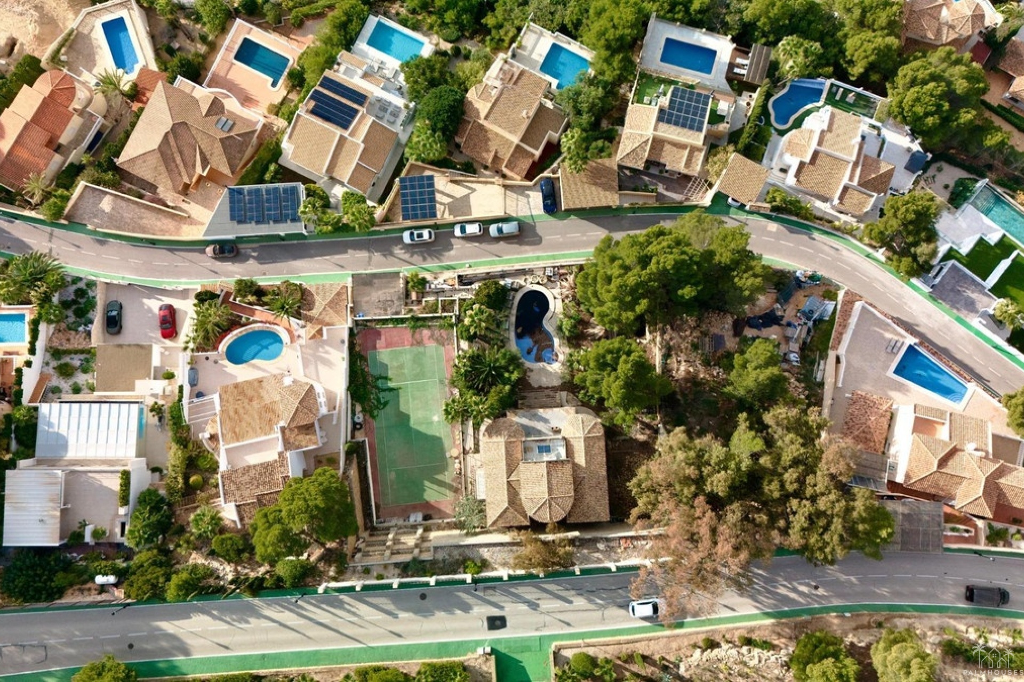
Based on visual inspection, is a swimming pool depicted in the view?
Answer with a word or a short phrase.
Yes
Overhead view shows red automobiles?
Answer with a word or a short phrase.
Yes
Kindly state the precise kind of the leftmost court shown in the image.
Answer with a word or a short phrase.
tennis court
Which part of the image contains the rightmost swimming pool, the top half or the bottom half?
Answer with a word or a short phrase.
top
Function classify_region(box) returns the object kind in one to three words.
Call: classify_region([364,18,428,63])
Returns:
swimming pool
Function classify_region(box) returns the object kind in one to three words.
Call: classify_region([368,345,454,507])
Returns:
tennis court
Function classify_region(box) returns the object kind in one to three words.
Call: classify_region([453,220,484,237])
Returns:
car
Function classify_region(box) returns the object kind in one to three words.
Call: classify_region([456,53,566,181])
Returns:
house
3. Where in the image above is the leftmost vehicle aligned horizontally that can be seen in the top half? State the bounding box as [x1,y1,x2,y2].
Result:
[205,241,239,258]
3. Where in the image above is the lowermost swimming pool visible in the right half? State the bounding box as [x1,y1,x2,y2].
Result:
[887,340,973,410]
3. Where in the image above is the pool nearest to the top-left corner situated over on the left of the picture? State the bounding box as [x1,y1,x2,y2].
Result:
[97,12,143,79]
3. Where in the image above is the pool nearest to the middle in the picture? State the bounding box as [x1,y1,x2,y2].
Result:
[509,285,561,370]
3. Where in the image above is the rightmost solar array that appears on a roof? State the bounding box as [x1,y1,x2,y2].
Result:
[658,88,710,131]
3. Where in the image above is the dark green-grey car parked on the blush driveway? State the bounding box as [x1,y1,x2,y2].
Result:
[105,300,124,335]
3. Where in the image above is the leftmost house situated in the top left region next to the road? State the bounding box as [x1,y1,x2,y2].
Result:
[0,69,116,209]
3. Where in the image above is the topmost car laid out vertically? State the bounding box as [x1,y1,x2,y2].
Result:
[540,178,557,214]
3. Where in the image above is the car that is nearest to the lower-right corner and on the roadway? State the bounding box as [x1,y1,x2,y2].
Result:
[965,586,1005,605]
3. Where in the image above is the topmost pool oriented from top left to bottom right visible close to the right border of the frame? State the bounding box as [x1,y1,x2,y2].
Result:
[969,186,1024,254]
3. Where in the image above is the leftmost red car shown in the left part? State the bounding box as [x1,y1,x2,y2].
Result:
[158,304,178,339]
